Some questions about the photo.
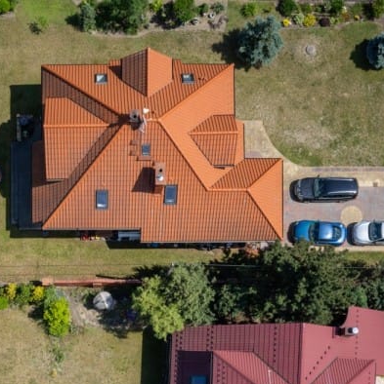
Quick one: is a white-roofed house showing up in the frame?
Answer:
No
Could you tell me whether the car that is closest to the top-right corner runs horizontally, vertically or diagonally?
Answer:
horizontally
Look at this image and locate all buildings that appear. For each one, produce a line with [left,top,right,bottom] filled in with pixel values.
[170,307,384,384]
[32,47,285,243]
